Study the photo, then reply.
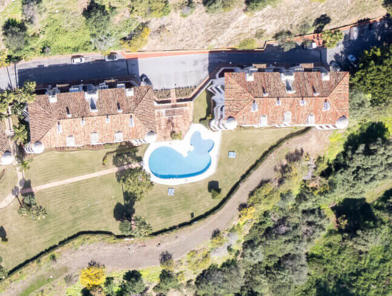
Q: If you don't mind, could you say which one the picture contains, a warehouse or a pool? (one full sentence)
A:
I can see a pool in this picture.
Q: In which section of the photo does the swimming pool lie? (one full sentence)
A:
The swimming pool is in the center part of the image.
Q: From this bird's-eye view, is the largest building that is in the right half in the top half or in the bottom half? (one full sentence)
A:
It is in the top half that the largest building that is in the right half appears.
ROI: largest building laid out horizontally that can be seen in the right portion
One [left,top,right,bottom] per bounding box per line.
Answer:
[202,61,350,137]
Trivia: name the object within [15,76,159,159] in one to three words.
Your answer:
building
